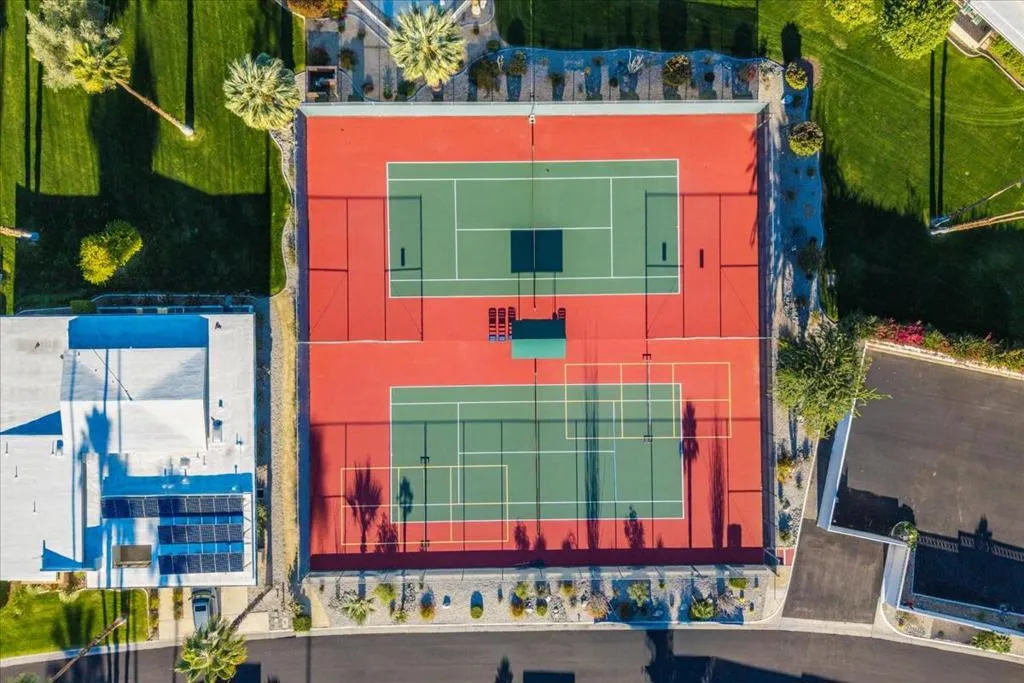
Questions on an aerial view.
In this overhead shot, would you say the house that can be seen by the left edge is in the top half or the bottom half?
bottom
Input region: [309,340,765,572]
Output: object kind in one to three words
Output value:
tennis court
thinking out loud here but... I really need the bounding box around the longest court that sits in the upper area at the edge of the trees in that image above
[307,113,761,342]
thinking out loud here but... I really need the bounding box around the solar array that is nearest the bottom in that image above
[156,553,244,574]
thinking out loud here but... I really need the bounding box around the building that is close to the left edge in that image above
[0,313,259,586]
